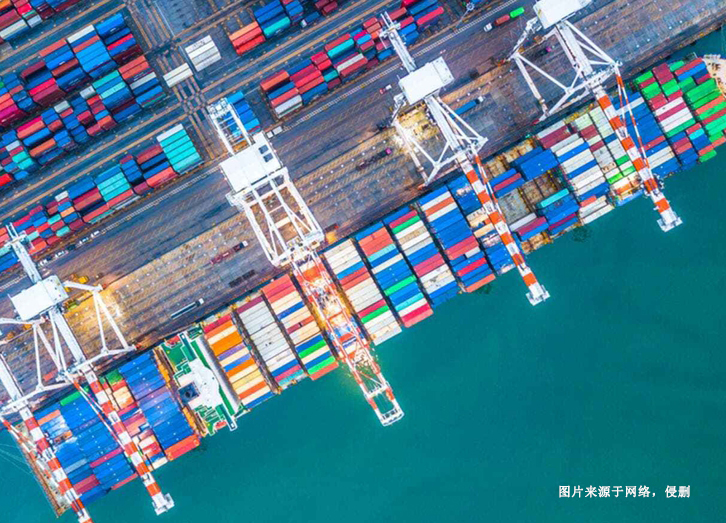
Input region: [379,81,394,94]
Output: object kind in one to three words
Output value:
vehicle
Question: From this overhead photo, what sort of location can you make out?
port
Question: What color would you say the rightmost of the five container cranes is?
white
